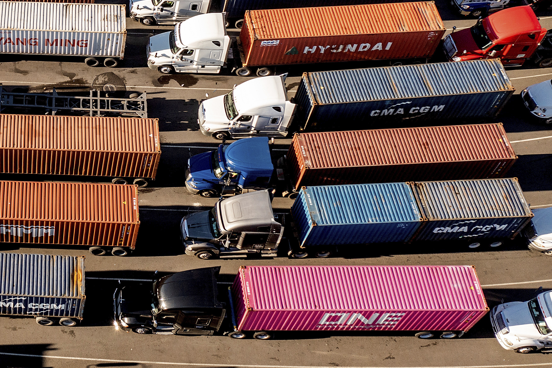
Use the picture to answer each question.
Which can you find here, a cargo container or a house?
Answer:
cargo container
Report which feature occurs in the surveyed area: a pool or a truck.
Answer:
truck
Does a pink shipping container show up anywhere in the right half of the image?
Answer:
Yes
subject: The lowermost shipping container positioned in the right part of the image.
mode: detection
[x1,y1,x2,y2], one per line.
[232,267,486,333]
